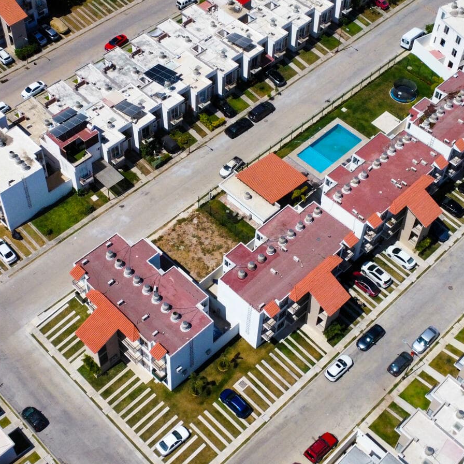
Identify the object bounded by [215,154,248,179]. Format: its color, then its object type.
white truck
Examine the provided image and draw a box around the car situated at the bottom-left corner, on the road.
[21,405,51,436]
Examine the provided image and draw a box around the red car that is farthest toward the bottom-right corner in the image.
[303,431,338,464]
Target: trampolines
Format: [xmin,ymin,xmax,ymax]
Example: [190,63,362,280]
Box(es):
[388,74,417,103]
